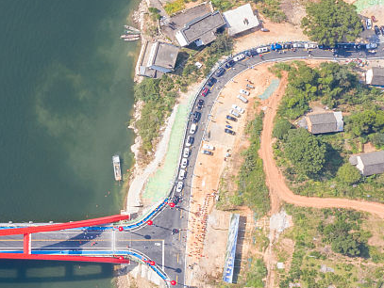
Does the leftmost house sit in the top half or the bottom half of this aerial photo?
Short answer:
top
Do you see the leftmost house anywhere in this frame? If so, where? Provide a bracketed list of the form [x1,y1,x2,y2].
[135,41,180,77]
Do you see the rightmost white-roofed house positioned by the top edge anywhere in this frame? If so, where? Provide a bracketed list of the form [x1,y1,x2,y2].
[221,2,259,34]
